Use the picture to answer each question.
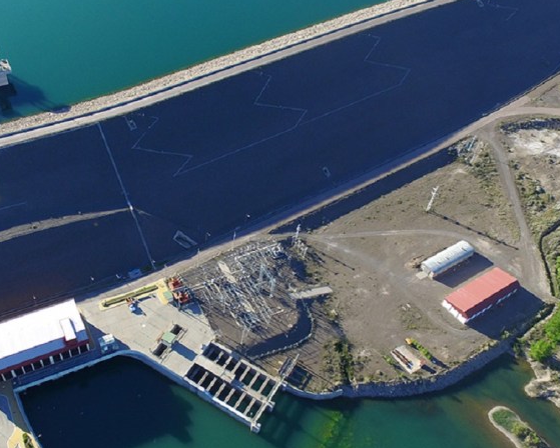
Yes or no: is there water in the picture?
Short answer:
Yes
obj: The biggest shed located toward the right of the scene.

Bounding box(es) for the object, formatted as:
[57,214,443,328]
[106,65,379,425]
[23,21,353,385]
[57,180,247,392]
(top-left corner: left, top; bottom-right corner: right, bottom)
[441,267,520,324]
